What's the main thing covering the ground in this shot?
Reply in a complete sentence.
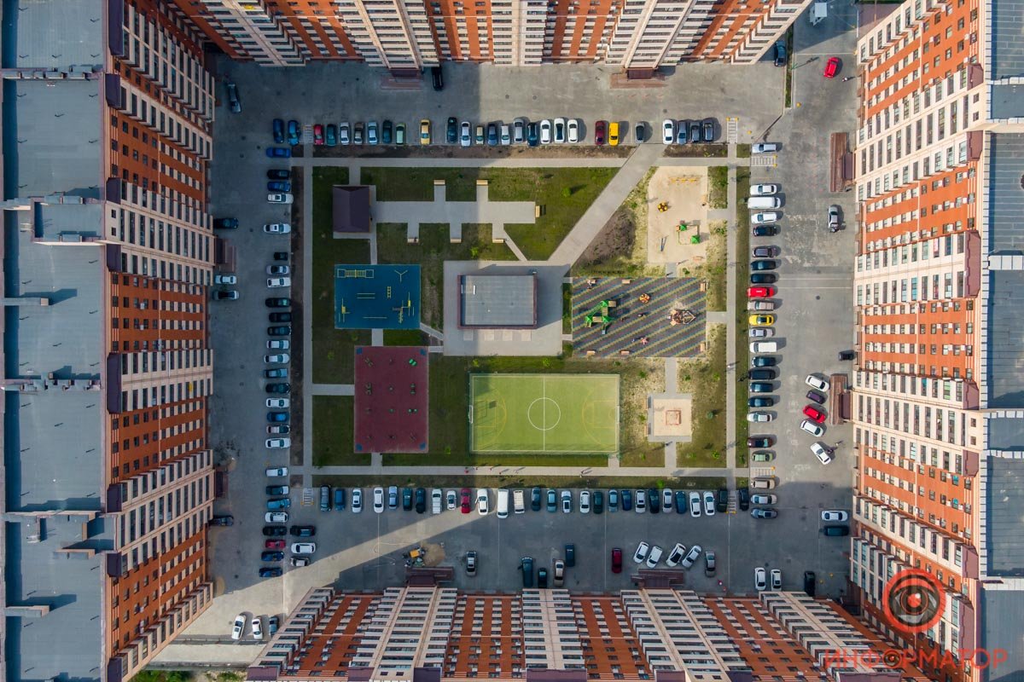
The bulk of the photo consists of buildings.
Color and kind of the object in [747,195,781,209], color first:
white vehicle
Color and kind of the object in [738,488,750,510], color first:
black vehicle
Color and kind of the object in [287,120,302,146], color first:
blue car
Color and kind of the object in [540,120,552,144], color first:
white vehicle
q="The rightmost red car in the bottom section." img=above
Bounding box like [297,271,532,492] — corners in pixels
[801,405,827,422]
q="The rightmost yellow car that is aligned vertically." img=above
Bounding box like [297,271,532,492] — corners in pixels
[608,122,620,147]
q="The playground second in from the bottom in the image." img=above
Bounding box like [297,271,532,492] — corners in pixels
[573,277,707,357]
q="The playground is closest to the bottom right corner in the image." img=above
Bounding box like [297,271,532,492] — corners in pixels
[648,393,692,442]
